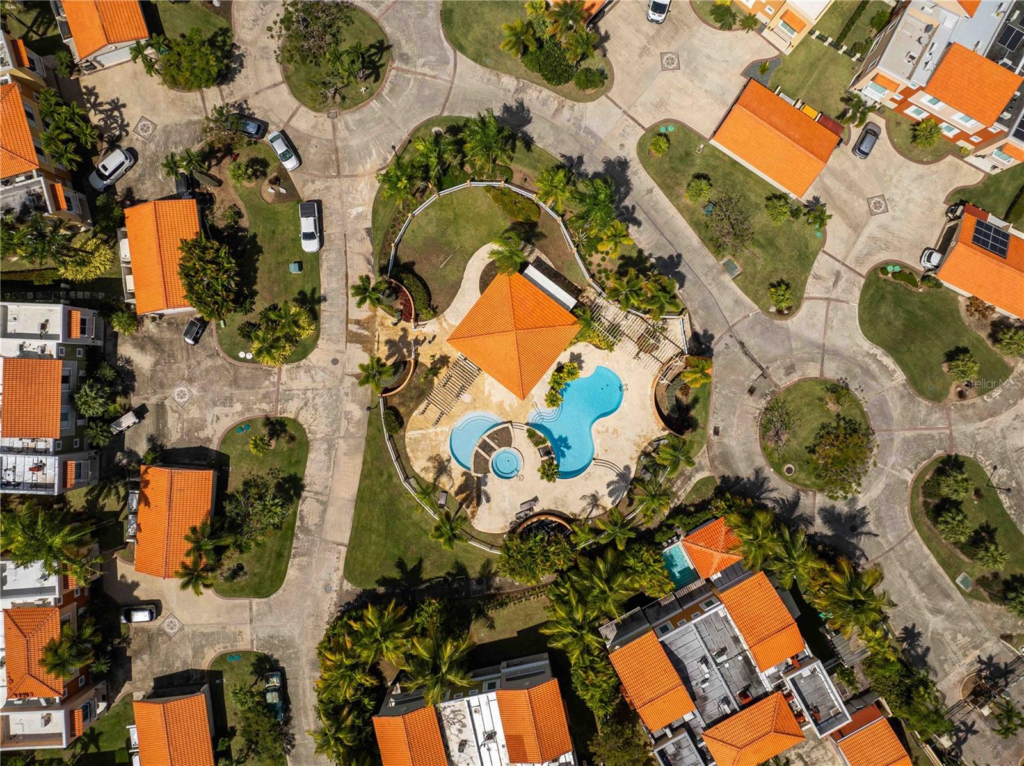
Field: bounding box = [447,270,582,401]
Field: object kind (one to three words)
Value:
building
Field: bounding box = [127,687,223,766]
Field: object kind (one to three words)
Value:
building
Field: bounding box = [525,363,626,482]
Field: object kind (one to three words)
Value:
swimming pool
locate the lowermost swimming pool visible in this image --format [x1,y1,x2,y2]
[660,542,699,590]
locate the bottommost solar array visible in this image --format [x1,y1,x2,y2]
[973,220,1011,257]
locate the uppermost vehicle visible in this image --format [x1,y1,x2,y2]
[648,0,670,29]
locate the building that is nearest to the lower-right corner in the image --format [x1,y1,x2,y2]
[952,666,1011,716]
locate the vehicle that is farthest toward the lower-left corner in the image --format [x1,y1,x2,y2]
[119,603,161,625]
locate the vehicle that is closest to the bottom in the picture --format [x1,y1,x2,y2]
[263,670,285,720]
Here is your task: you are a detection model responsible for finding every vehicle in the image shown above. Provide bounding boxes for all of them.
[92,150,135,191]
[196,187,216,211]
[917,248,944,268]
[850,119,880,163]
[648,0,670,29]
[941,203,966,221]
[299,202,321,253]
[109,410,144,433]
[71,58,99,78]
[263,670,285,720]
[180,321,203,343]
[268,131,300,173]
[230,115,271,140]
[174,170,197,200]
[119,603,161,625]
